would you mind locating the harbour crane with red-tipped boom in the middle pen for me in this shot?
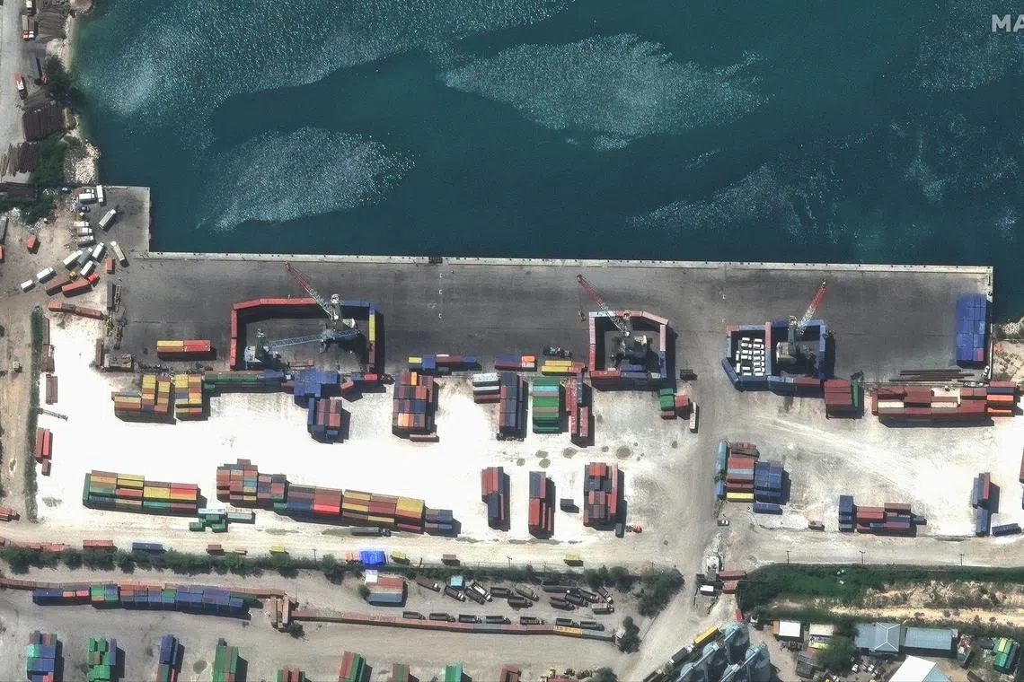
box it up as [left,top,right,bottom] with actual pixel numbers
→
[577,274,651,364]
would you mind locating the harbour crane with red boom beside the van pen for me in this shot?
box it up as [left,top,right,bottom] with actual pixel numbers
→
[775,279,827,375]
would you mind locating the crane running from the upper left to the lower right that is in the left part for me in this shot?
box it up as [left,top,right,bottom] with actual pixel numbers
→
[285,261,365,345]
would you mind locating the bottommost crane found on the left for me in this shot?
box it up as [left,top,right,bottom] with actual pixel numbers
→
[242,328,360,372]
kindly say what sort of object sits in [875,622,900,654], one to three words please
house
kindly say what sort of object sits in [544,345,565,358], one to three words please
vehicle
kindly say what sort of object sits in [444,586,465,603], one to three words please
vehicle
